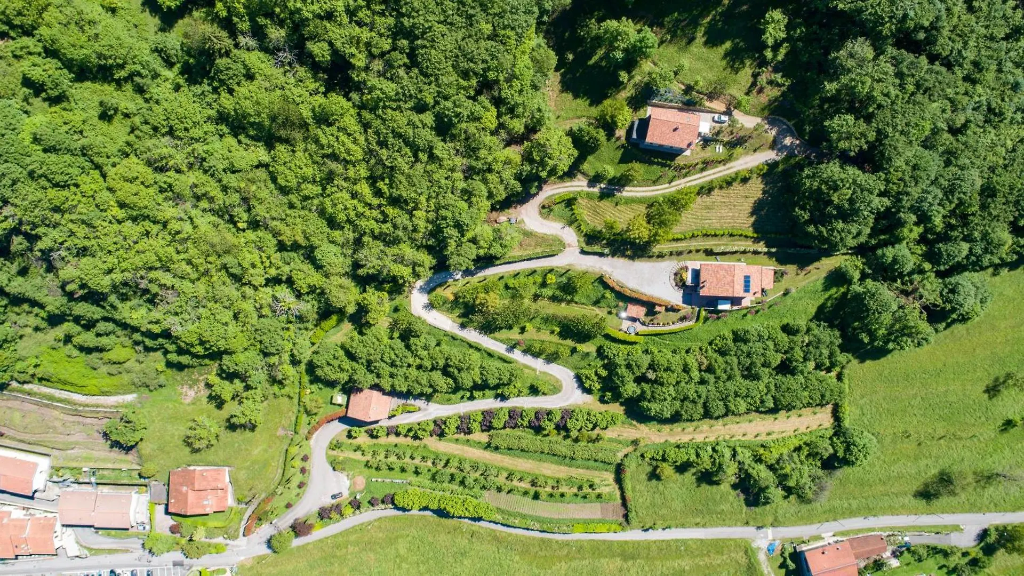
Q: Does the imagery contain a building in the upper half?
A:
Yes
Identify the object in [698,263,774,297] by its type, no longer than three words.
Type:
house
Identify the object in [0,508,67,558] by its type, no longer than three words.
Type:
house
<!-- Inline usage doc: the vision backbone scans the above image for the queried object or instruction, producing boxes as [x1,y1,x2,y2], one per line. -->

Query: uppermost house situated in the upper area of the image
[644,107,700,152]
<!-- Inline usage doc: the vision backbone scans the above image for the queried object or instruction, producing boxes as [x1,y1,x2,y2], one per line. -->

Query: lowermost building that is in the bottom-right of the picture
[799,533,887,576]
